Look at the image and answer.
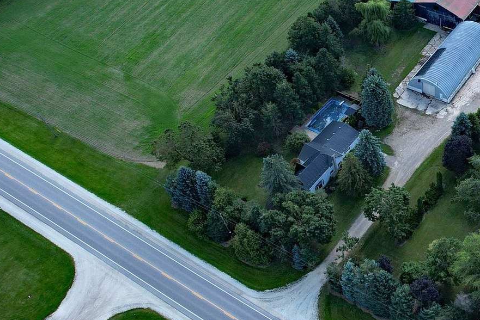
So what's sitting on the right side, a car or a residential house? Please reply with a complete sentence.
The one visible on the right side is a residential house.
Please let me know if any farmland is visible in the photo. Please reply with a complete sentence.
Yes, some farmland is visible.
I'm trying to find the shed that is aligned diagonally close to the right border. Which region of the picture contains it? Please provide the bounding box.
[406,21,480,103]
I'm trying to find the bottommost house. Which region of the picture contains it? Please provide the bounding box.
[291,121,363,198]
